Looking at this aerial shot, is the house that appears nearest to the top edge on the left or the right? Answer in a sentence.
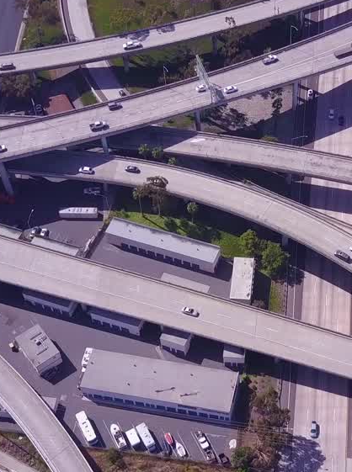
The house that appears nearest to the top edge appears in the left half of the scene.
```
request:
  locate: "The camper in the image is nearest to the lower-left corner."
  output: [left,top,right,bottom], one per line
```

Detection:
[75,409,98,444]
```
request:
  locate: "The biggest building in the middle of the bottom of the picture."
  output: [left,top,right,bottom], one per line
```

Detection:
[81,348,239,416]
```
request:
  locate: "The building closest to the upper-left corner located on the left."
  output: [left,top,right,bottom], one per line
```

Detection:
[45,94,76,117]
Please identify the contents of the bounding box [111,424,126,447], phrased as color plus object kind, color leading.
white boat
